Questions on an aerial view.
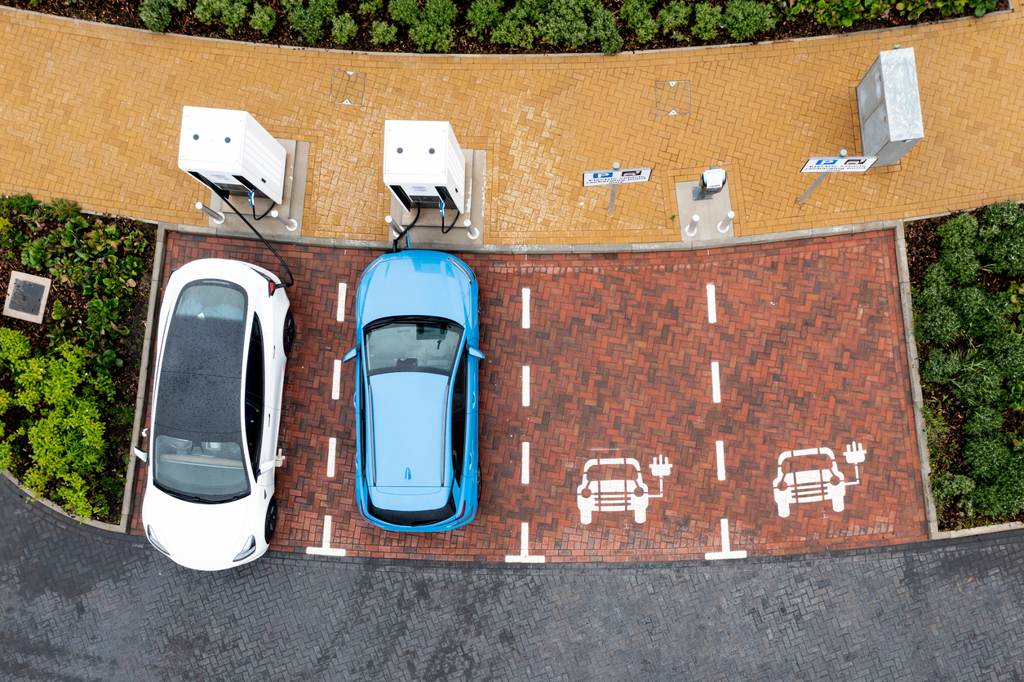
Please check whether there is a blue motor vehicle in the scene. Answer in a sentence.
Yes, the image includes a blue motor vehicle.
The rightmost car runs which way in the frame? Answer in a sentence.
The rightmost car is laid out from top to bottom.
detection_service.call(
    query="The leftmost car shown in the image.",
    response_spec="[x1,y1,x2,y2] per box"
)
[133,258,298,573]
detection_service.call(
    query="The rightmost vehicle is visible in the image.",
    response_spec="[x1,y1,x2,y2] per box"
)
[342,230,489,535]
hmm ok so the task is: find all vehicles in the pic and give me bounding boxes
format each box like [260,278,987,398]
[133,258,298,573]
[342,230,489,535]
